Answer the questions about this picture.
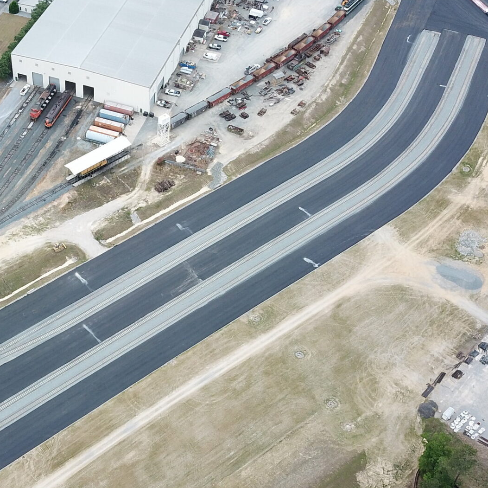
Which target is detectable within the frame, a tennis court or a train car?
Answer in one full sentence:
There is a train car in the scene.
